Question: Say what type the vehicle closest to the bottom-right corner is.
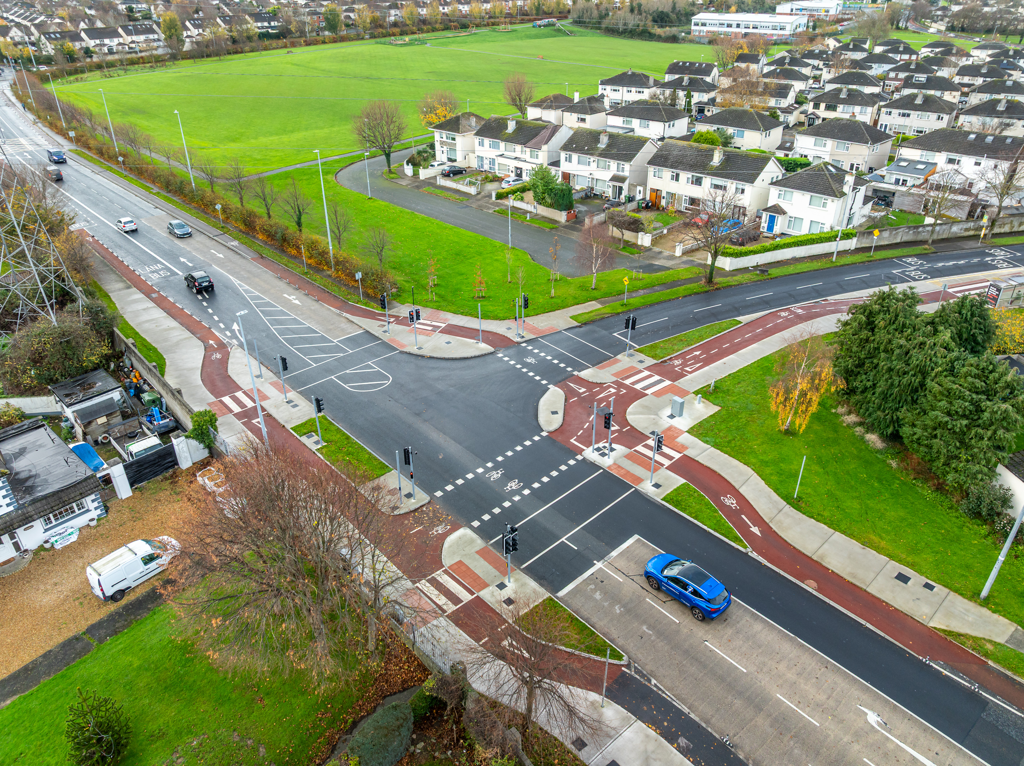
car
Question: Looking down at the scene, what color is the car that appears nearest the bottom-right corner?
blue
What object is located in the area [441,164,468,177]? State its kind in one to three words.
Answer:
vehicle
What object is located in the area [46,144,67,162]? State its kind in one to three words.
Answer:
vehicle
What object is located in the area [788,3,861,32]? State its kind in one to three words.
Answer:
building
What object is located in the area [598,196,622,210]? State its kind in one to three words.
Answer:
car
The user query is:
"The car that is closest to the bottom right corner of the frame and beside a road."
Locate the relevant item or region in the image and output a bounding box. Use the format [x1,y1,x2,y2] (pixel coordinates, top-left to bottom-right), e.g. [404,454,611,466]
[644,556,736,624]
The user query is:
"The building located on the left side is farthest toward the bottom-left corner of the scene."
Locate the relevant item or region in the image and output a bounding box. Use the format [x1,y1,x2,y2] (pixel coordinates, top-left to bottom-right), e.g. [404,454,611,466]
[0,410,97,563]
